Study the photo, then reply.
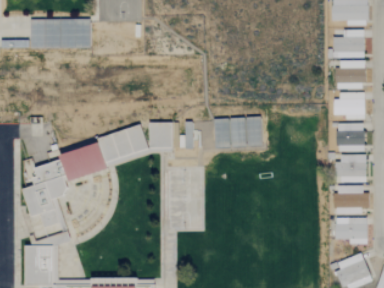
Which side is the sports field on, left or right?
right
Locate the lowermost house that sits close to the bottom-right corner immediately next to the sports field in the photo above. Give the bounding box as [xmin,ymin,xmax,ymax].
[332,253,372,288]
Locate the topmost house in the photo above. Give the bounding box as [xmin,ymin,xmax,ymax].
[332,0,370,26]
